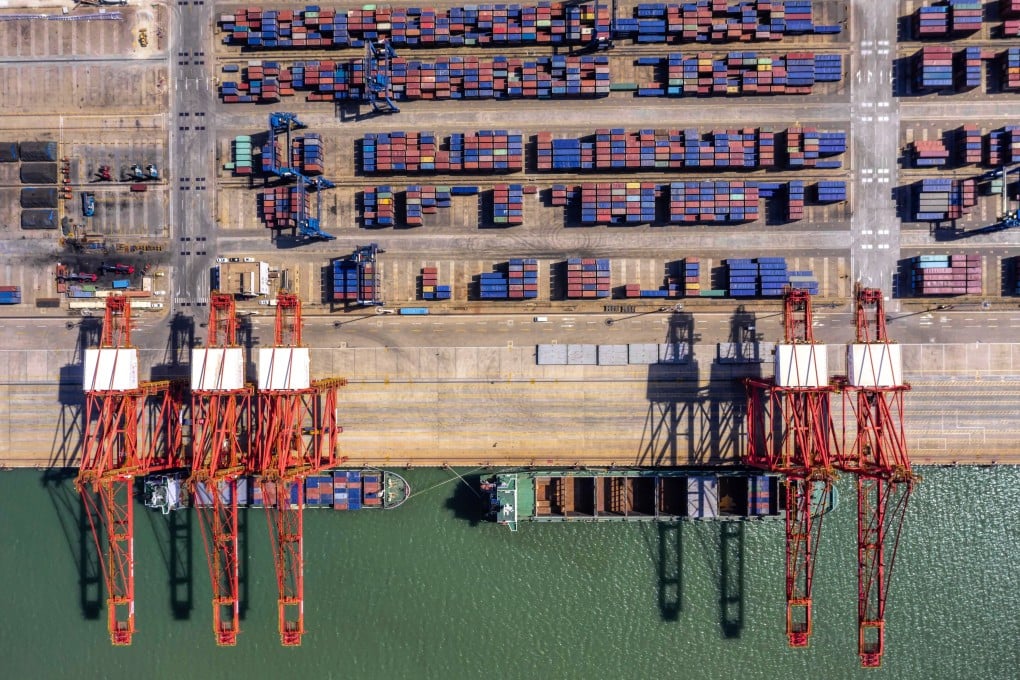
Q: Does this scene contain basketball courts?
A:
No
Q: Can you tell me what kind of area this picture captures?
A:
port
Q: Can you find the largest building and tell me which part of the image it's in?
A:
left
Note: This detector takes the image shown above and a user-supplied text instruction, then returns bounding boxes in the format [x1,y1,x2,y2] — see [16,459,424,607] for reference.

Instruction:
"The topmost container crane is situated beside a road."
[585,0,618,51]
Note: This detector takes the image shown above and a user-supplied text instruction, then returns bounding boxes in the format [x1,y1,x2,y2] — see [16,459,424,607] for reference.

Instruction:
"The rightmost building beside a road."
[219,262,268,296]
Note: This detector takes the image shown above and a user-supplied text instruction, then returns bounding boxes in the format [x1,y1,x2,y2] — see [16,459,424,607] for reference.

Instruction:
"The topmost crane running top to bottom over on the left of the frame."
[366,36,402,114]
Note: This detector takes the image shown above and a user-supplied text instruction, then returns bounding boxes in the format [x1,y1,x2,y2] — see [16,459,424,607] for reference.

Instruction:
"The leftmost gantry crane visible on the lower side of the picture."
[72,290,204,647]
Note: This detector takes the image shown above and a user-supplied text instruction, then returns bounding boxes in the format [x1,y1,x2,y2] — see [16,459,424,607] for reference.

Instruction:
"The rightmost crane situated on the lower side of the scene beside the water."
[792,286,917,668]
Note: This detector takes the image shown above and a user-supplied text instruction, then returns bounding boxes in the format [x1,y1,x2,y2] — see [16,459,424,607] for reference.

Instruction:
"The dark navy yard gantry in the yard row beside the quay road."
[356,240,391,308]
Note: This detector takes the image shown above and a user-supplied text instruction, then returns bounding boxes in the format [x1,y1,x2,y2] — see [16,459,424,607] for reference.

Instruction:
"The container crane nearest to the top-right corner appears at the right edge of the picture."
[964,165,1020,235]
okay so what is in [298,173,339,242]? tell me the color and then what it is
blue container crane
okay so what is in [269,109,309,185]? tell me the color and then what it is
blue container crane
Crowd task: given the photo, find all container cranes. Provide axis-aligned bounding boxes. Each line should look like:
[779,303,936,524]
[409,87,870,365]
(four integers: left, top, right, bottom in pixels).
[366,36,402,114]
[256,290,352,647]
[792,286,917,668]
[72,290,204,647]
[298,173,339,242]
[186,290,280,647]
[269,109,309,185]
[964,165,1020,235]
[729,286,840,648]
[356,240,391,308]
[585,0,618,51]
